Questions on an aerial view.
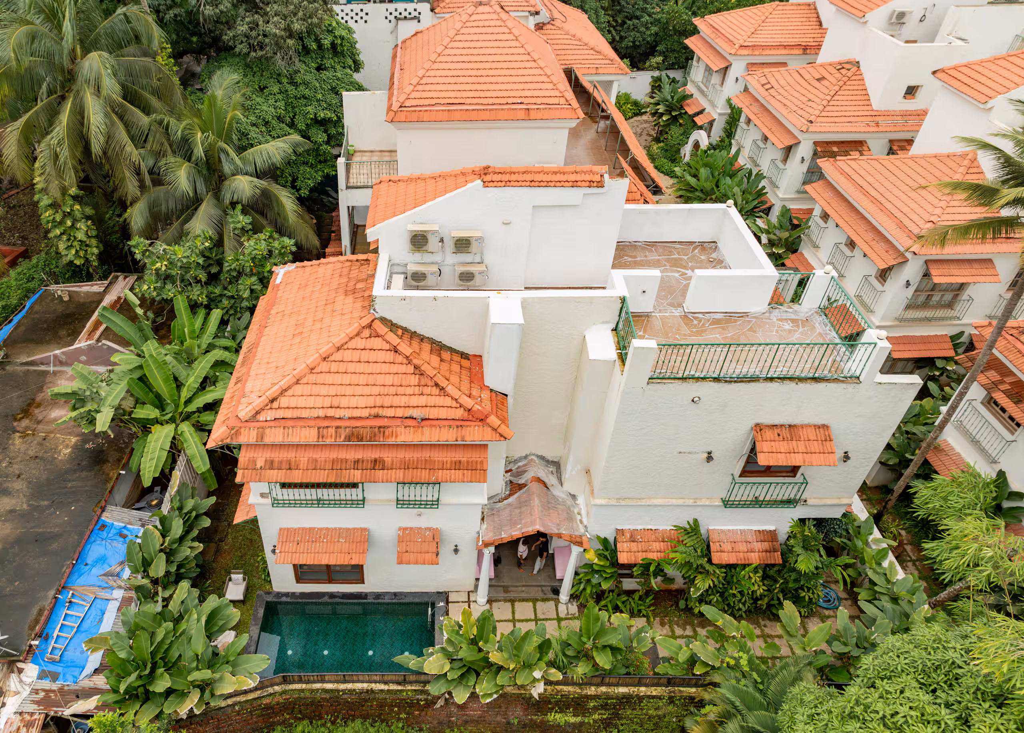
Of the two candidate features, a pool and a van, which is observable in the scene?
pool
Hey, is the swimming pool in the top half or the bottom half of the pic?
bottom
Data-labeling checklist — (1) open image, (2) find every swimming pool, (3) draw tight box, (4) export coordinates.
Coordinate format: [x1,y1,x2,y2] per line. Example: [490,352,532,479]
[235,591,448,684]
